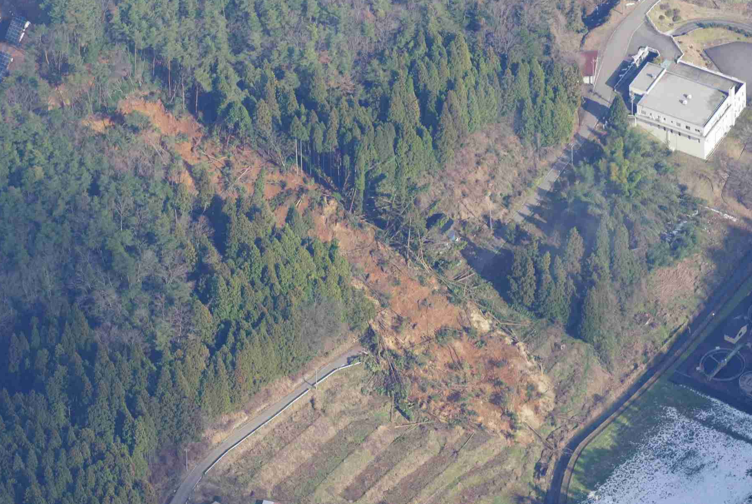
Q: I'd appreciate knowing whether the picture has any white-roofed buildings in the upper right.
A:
Yes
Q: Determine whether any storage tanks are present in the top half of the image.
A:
No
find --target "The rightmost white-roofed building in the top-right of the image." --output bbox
[623,56,742,157]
